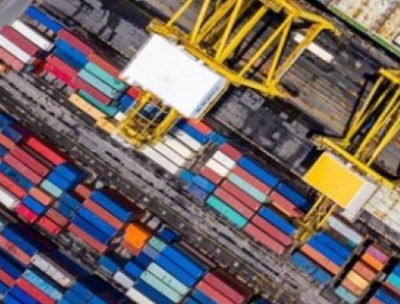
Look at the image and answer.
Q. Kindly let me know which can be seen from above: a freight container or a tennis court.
freight container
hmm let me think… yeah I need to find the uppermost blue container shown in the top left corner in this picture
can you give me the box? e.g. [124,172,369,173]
[25,6,62,38]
